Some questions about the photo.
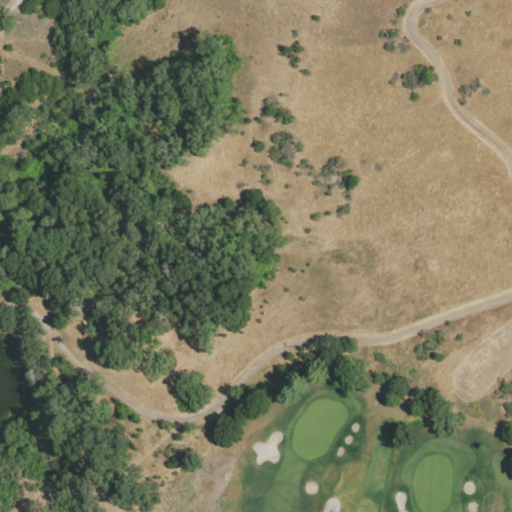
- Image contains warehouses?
No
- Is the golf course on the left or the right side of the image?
right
